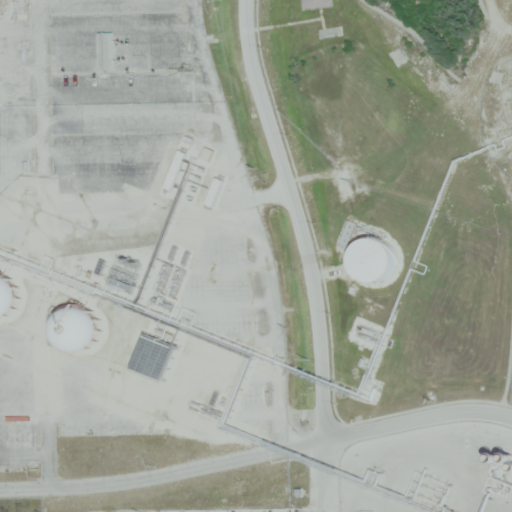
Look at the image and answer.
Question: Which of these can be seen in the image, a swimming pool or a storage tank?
storage tank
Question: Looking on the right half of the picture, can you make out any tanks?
Yes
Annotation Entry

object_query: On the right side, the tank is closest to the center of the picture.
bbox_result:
[344,230,398,284]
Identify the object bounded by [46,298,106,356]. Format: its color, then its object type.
white storage tank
